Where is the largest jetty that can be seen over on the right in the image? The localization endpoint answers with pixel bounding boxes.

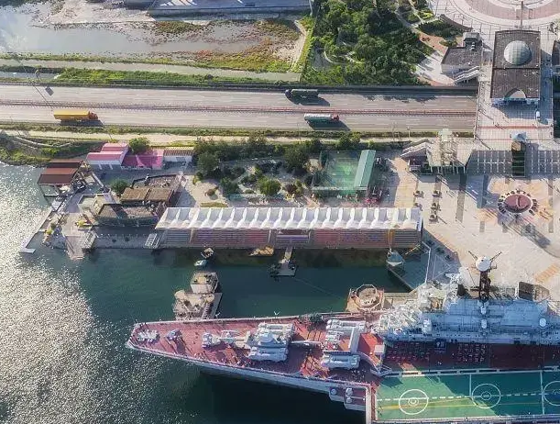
[384,245,432,289]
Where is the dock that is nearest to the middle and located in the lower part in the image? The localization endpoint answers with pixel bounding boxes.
[274,250,296,278]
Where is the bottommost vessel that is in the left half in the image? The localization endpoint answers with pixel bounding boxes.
[172,289,222,320]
